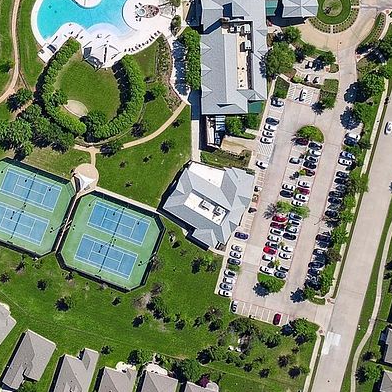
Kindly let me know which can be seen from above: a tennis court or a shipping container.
tennis court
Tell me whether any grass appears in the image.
Yes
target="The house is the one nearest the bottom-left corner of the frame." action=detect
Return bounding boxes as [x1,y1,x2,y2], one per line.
[4,328,55,392]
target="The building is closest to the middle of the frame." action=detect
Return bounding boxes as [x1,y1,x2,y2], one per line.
[161,160,254,249]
